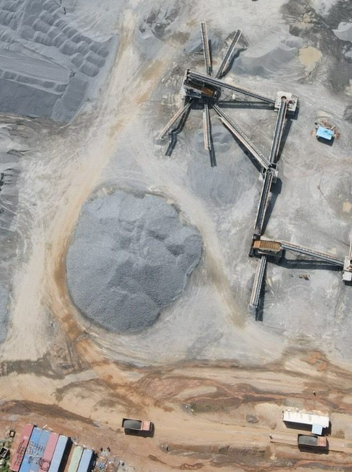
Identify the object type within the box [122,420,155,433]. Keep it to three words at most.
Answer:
vehicle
